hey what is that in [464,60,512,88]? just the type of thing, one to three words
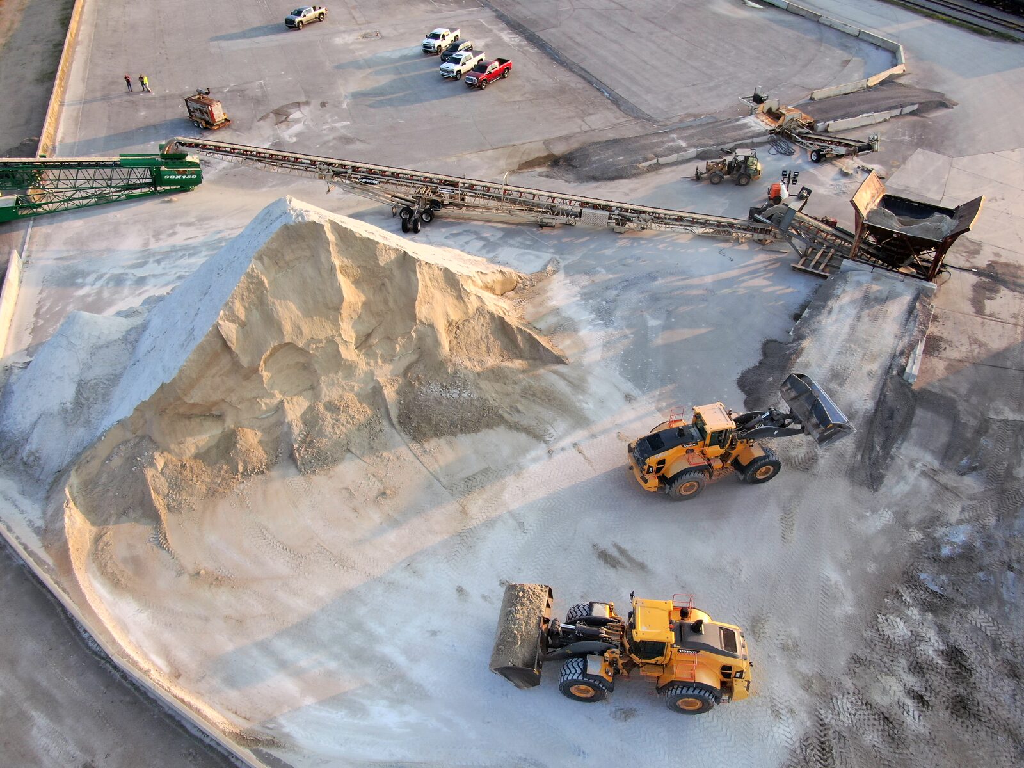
truck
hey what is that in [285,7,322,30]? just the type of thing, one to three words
truck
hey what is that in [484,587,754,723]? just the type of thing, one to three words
work vehicle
